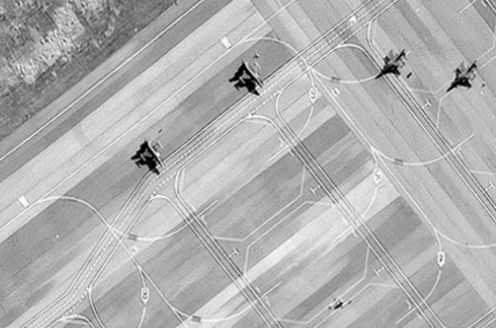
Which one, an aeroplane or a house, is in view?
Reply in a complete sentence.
I can see an aeroplane in this picture.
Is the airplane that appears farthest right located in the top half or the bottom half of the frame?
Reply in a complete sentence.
The top half of the photo is where the airplane that appears farthest right is.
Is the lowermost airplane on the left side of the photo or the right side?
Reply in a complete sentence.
It is on the left.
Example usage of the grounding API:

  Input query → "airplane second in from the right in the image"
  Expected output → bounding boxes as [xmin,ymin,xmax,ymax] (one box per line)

[381,46,413,72]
